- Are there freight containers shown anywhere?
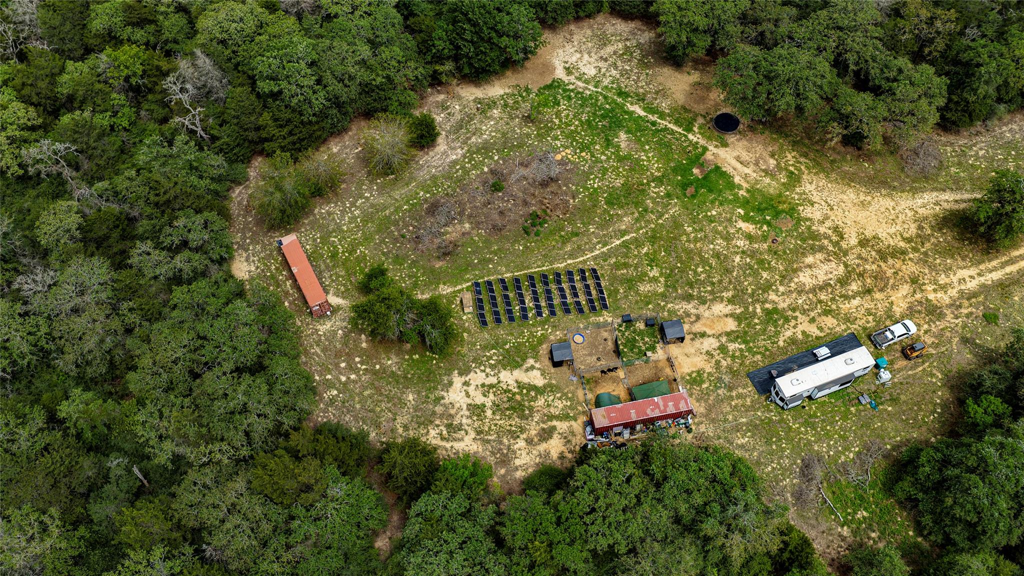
Yes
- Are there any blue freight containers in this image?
No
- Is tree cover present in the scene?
Yes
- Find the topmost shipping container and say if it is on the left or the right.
left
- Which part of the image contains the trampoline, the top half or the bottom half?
top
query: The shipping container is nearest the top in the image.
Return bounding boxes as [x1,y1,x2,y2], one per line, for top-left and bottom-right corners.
[279,234,331,318]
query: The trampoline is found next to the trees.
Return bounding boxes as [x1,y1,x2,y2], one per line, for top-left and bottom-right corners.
[711,113,740,135]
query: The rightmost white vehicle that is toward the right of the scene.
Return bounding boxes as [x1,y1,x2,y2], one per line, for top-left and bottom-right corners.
[869,323,918,348]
